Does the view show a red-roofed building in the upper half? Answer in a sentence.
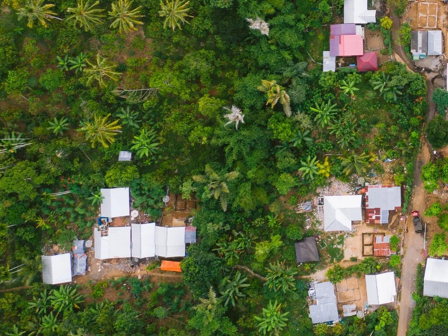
Yes, the scene does show a red-roofed building in the upper half.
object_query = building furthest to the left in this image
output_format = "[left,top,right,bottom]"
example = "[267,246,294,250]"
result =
[42,253,76,283]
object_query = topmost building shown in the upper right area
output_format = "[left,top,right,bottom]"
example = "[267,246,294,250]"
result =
[344,0,376,24]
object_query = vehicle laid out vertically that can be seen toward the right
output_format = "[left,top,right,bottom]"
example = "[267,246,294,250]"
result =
[409,209,423,234]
